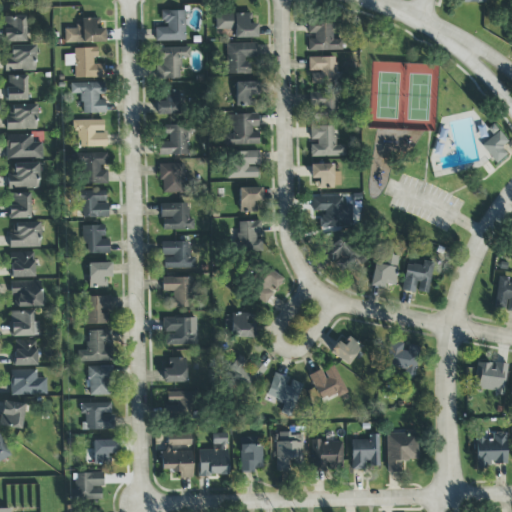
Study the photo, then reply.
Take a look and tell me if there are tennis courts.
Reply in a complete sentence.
Yes, you can see a tennis court in this photo.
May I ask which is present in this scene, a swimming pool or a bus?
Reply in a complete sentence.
There is a swimming pool in the scene.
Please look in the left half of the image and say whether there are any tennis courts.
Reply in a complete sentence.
No, I see no tennis court in the left half of the image.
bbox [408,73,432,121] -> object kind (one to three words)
tennis court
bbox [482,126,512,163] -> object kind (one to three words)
building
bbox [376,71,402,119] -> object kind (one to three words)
tennis court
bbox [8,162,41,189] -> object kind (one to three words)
house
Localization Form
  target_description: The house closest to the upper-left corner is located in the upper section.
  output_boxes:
[5,16,28,40]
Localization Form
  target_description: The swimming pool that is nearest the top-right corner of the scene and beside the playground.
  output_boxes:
[431,110,490,177]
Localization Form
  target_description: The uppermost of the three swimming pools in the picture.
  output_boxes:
[186,8,202,31]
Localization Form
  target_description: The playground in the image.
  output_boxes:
[370,128,426,199]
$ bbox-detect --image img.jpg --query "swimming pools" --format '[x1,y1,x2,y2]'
[190,49,203,72]
[186,8,202,31]
[431,110,490,177]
